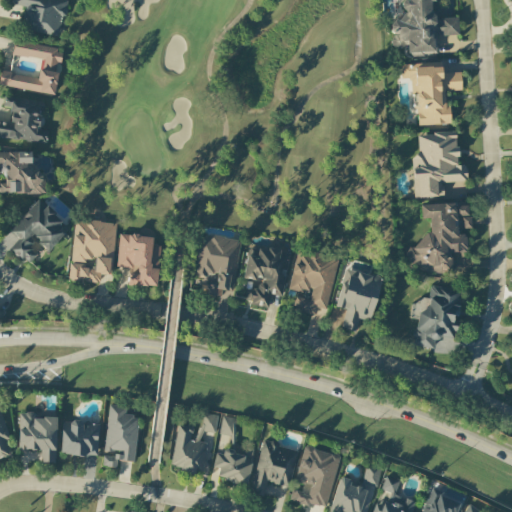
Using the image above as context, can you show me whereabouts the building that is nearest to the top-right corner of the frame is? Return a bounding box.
[441,17,460,36]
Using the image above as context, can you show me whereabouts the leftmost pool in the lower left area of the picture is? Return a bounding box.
[36,394,59,412]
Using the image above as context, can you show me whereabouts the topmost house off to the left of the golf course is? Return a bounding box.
[15,0,72,40]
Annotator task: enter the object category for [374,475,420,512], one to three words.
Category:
house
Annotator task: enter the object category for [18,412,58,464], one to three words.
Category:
house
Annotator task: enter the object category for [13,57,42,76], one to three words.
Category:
swimming pool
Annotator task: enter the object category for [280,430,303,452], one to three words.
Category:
swimming pool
